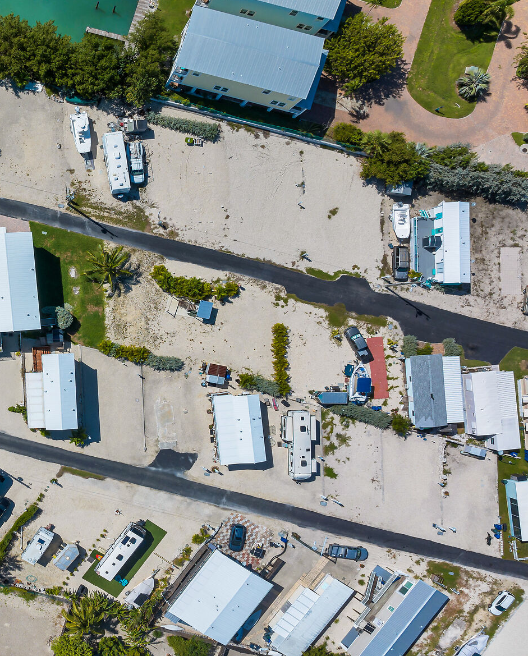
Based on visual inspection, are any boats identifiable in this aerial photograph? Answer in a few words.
Yes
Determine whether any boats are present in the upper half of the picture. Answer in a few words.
Yes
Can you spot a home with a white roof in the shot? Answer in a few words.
Yes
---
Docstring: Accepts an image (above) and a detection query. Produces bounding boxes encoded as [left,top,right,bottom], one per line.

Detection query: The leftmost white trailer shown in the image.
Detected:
[22,522,54,563]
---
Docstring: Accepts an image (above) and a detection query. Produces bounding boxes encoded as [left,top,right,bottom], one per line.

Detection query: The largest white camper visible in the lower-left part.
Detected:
[94,525,142,580]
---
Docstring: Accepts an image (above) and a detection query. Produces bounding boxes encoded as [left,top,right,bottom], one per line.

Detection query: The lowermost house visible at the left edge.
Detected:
[24,344,78,430]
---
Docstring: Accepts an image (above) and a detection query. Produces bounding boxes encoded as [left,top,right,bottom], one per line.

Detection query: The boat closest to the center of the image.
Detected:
[347,363,372,409]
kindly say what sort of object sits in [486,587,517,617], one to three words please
car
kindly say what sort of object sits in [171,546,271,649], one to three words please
house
